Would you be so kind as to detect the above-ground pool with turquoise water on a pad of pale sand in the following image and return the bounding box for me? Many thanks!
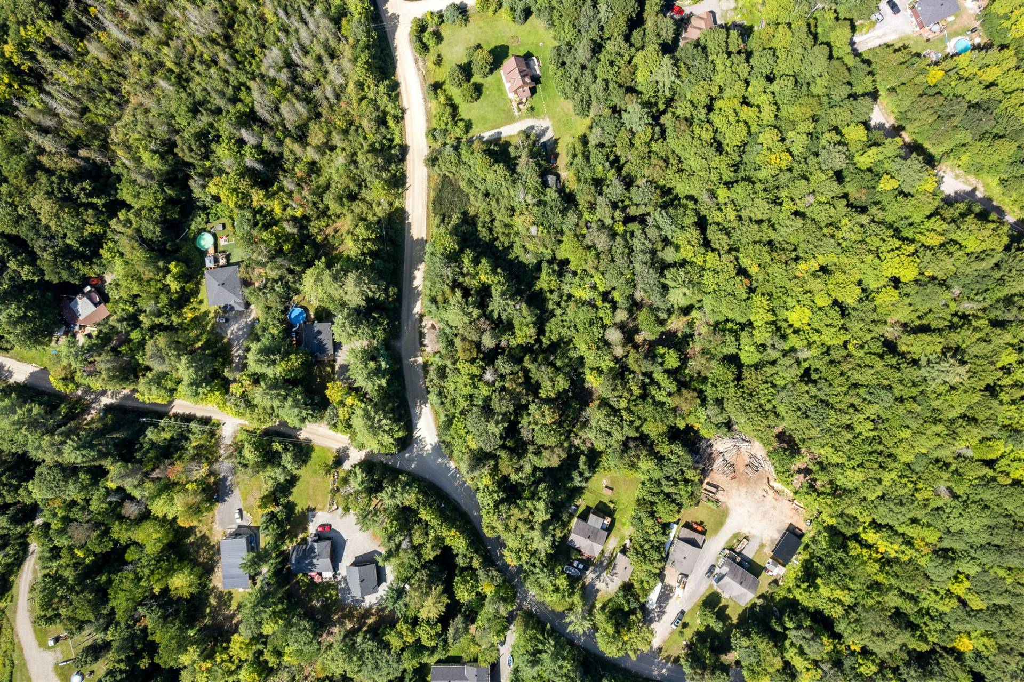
[953,36,973,53]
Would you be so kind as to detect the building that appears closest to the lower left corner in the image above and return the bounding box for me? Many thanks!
[220,528,257,589]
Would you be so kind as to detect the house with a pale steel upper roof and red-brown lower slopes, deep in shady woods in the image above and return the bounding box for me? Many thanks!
[58,291,115,336]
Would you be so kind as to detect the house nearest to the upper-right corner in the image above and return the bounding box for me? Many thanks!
[904,0,960,40]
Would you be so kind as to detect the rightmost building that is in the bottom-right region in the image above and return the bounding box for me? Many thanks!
[766,529,802,566]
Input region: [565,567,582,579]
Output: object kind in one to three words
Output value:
boat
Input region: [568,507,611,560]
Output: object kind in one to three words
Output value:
house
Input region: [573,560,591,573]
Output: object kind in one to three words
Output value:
vehicle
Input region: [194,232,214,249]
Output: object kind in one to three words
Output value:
swimming pool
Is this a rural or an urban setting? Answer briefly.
rural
